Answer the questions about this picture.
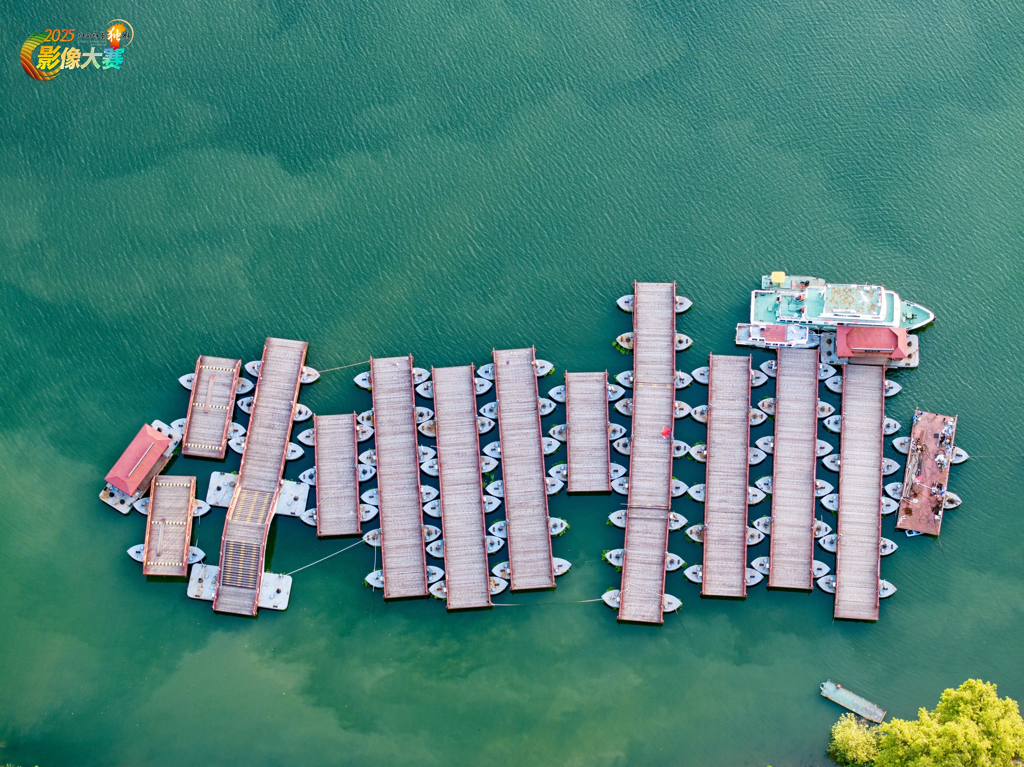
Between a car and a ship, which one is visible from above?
ship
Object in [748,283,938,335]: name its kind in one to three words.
ship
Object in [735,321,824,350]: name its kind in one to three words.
boat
